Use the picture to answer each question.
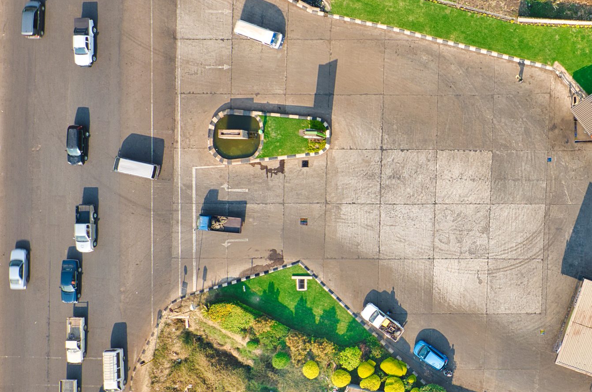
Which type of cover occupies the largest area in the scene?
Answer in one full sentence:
The largest share of the image is taken up by paved ground.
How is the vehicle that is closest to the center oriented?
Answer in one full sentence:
From this overhead view, the vehicle that is closest to the center appears to run from side to side.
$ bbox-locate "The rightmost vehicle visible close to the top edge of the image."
[233,19,284,48]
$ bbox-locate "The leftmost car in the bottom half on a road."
[9,249,33,291]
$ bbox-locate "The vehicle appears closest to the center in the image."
[197,210,246,231]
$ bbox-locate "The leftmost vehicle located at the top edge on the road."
[22,0,47,40]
